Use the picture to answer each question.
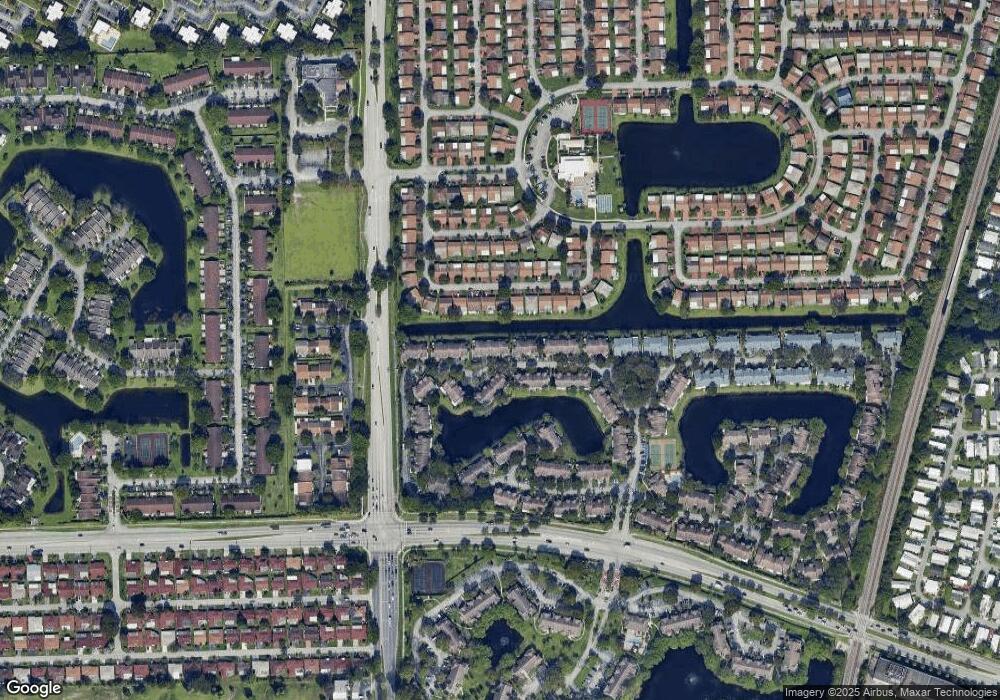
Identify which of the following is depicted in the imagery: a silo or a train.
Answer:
train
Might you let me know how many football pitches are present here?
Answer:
0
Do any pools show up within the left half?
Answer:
Yes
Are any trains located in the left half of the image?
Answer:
No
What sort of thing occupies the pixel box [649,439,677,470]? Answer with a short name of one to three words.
tennis court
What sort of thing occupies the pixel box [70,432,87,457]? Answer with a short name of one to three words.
swimming pool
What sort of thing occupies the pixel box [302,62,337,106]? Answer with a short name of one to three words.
building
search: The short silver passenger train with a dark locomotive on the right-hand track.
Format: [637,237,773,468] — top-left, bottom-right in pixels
[944,226,972,315]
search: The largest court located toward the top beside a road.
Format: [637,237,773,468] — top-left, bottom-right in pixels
[580,99,612,135]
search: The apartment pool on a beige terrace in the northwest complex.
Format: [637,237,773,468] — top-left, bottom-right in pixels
[91,27,120,51]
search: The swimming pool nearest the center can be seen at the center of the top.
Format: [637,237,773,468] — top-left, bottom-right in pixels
[571,165,598,208]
